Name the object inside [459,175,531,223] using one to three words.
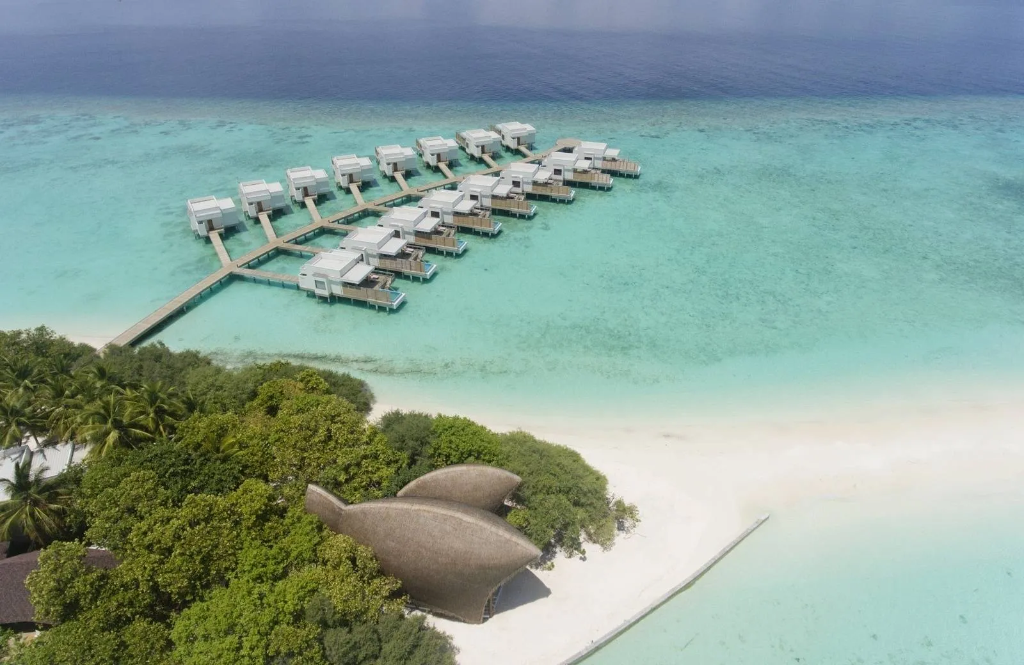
house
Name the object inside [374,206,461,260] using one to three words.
house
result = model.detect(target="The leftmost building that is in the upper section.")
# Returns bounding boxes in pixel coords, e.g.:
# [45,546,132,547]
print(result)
[185,197,240,246]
